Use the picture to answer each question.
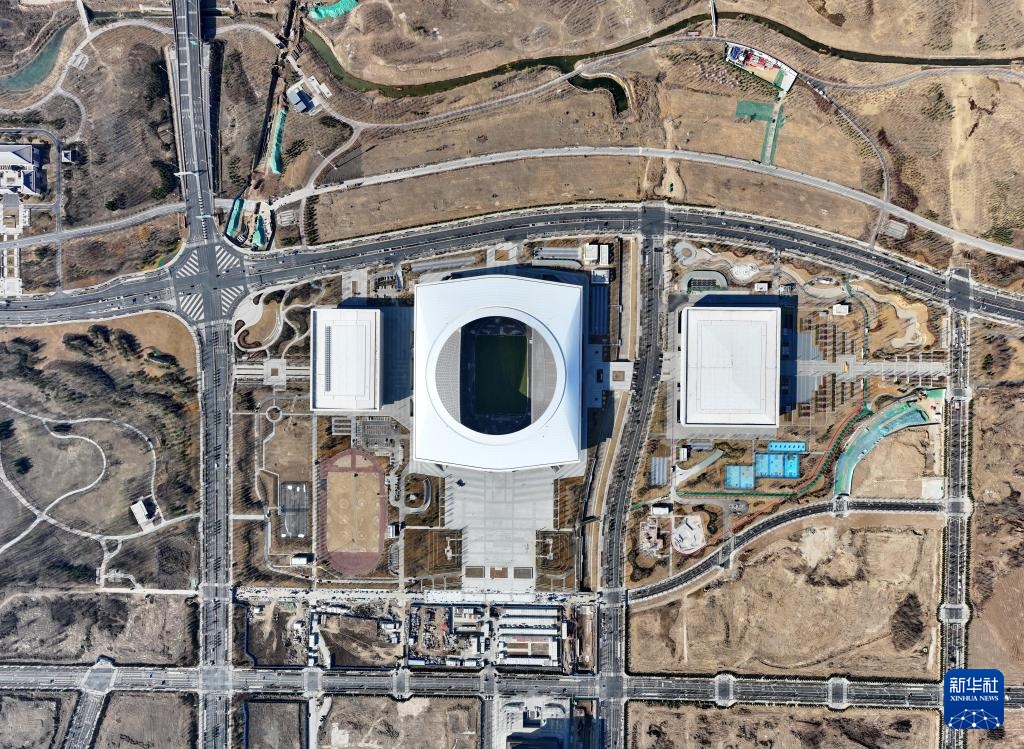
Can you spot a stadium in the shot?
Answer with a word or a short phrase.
Yes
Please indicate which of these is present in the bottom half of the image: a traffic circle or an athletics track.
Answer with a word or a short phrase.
athletics track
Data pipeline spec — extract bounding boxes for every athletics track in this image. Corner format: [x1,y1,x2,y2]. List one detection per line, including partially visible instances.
[318,450,387,576]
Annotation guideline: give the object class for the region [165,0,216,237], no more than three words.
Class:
overpass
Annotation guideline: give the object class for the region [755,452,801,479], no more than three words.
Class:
sports court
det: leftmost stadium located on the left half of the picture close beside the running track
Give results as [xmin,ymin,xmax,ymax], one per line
[311,309,383,410]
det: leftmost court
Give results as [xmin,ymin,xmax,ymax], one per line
[281,482,306,538]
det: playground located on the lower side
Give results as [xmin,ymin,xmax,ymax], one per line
[640,517,663,557]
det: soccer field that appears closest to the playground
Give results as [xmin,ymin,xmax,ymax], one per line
[475,336,527,416]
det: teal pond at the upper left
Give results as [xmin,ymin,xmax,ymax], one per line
[0,25,68,92]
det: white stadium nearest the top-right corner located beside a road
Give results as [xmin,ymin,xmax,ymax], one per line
[676,307,781,427]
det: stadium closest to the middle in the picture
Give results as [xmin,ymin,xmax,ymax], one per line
[411,266,588,485]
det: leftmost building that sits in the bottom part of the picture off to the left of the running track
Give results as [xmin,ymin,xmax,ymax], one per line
[128,498,158,527]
